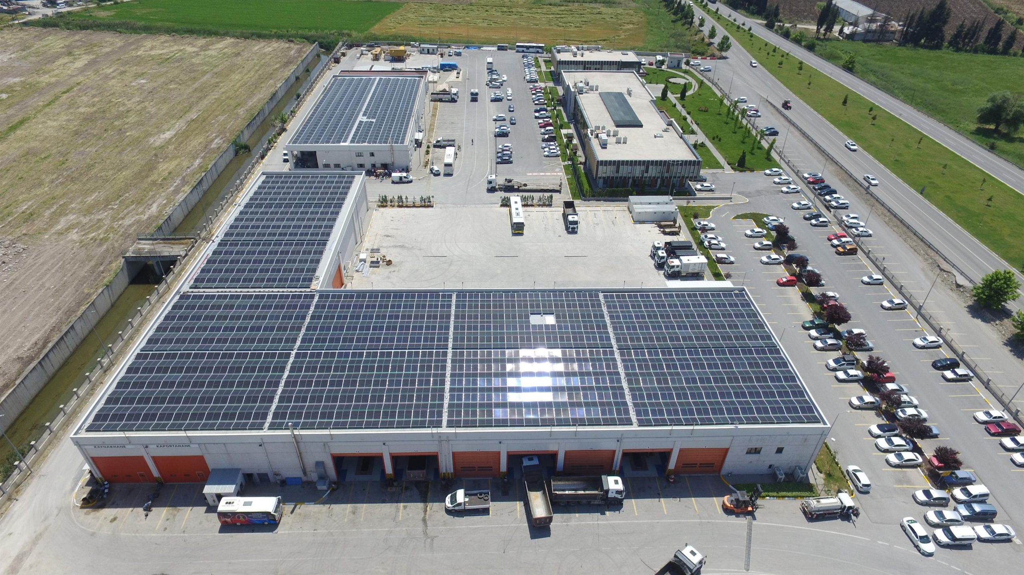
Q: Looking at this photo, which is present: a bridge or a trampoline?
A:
bridge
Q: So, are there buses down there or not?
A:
Yes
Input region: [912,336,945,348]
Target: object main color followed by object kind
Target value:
white vehicle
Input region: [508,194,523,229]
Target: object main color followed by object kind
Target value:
white vehicle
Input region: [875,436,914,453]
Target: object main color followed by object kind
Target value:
white car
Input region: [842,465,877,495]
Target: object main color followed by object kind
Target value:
white car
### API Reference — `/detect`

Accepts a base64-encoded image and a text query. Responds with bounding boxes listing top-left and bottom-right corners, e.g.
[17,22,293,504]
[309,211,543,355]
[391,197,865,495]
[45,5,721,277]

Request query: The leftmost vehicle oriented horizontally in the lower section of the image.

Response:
[208,498,286,531]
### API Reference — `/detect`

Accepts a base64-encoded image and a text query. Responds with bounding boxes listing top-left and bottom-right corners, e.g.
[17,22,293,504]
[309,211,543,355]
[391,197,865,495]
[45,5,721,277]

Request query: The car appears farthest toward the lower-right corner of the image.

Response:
[973,524,1017,543]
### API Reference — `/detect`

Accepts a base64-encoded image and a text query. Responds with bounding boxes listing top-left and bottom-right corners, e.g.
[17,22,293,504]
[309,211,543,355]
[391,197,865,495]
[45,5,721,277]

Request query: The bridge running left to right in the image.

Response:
[117,234,193,268]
